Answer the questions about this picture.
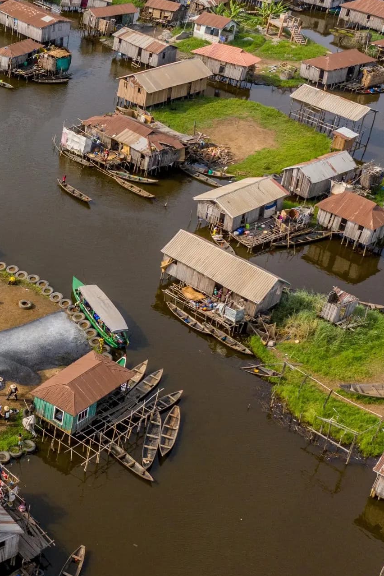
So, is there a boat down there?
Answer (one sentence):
Yes, this view includes a boat.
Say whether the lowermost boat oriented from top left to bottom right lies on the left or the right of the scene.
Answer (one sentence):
The lowermost boat oriented from top left to bottom right appears in the left half of the scene.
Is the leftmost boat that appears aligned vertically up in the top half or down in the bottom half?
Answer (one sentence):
The leftmost boat that appears aligned vertically sits in the bottom half of the picture.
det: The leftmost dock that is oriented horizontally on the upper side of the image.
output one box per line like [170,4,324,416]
[11,64,55,87]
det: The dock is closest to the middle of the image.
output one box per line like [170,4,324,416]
[161,282,251,344]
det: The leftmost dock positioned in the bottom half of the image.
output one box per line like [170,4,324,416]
[0,497,53,567]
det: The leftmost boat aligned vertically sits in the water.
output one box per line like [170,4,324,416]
[140,410,161,469]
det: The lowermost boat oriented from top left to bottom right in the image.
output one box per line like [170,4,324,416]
[101,438,155,482]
